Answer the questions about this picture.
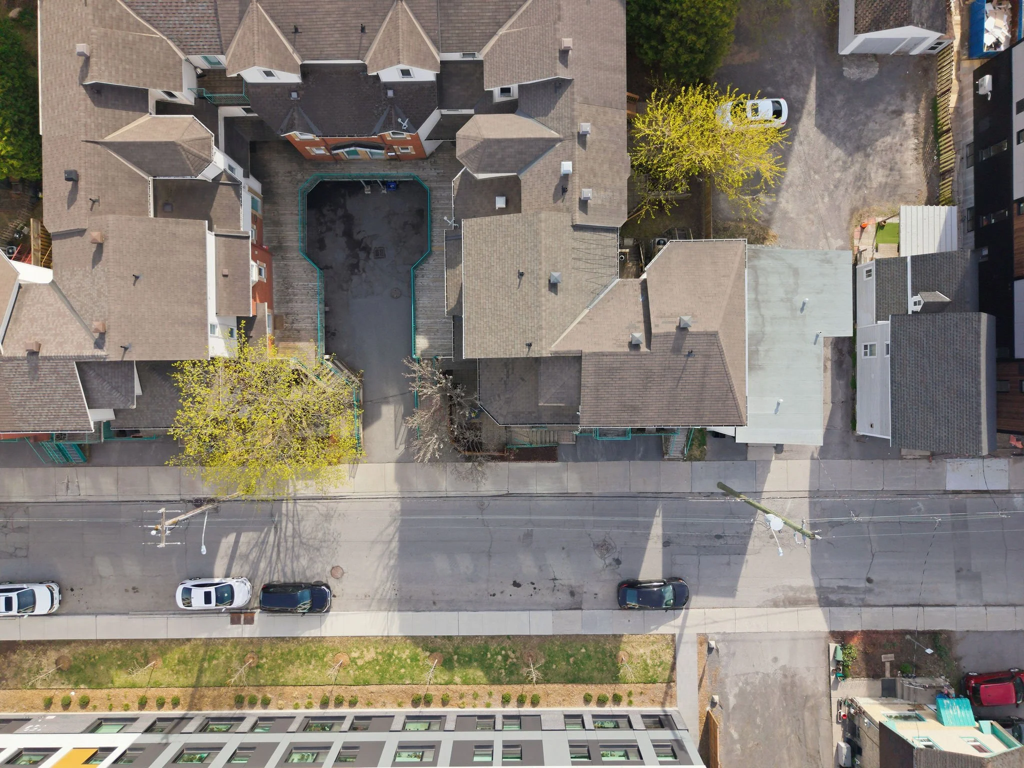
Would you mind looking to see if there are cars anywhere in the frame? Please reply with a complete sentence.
Yes, there is a car in the image.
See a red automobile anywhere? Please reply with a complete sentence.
Yes, the frame does contain a red automobile.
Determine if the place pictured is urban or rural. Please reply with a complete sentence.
The area is urban.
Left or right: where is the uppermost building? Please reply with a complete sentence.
The uppermost building sits on the right side.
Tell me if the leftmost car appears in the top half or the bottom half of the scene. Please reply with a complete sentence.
The bottom half of the photo is where the leftmost car is.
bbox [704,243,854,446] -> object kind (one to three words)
building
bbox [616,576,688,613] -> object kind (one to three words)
car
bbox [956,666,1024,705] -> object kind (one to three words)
car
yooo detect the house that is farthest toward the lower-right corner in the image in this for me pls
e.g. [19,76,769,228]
[856,697,1024,768]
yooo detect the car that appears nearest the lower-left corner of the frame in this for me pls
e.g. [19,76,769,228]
[0,580,66,619]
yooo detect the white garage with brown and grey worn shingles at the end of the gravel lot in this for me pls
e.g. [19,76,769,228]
[839,0,957,55]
